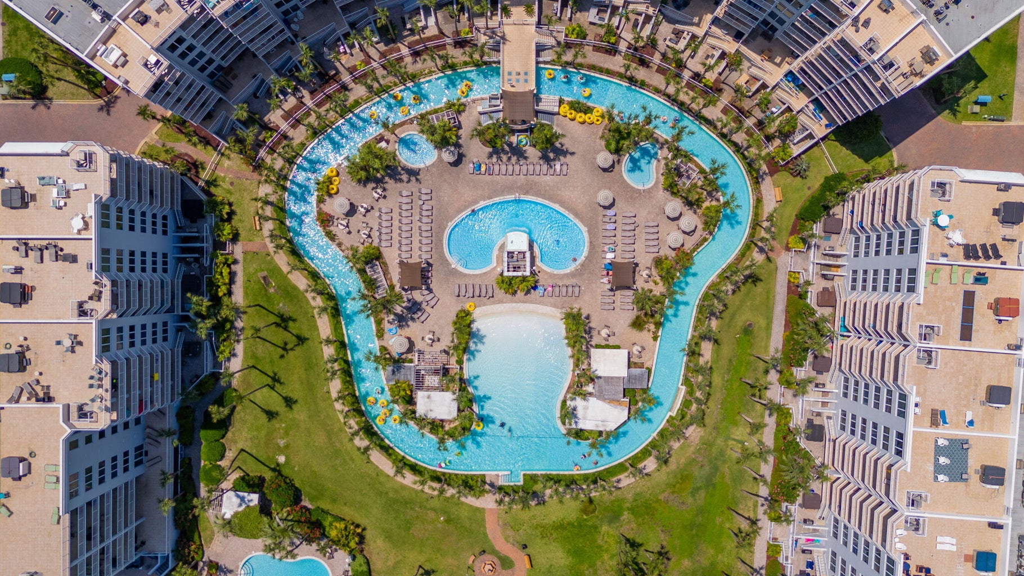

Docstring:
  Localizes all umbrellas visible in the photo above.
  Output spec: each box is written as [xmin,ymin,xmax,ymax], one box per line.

[596,189,614,206]
[333,197,350,214]
[596,151,613,169]
[678,215,696,233]
[664,201,681,218]
[666,231,684,249]
[392,335,410,353]
[441,146,458,163]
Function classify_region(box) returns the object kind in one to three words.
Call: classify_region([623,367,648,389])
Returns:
shed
